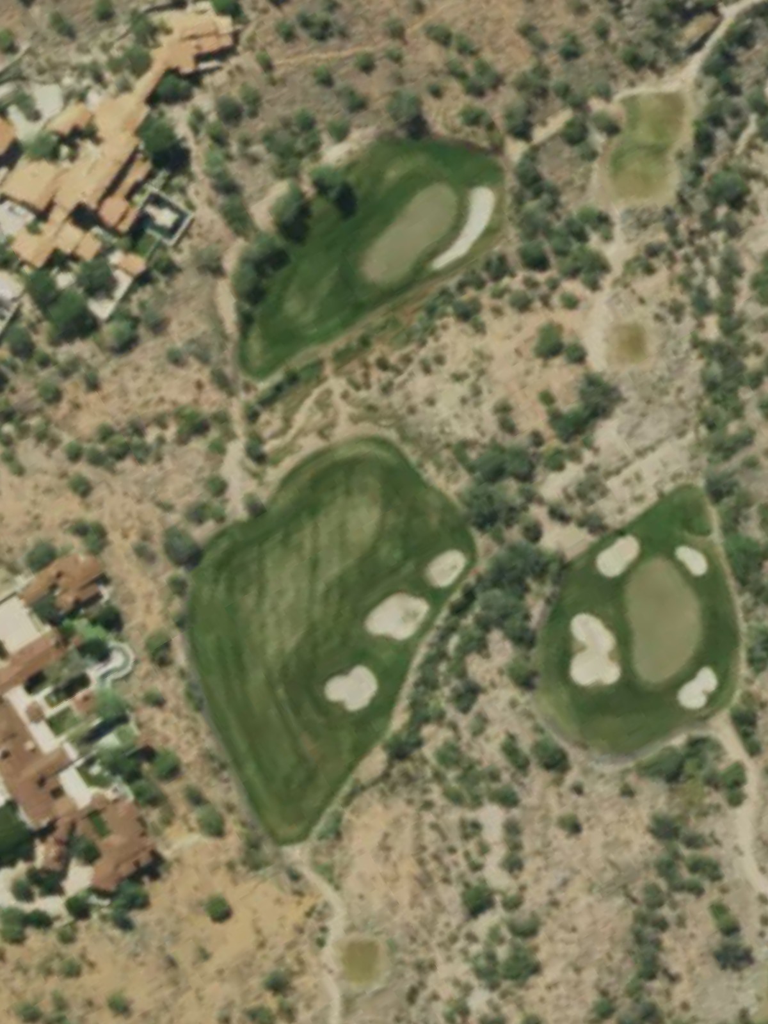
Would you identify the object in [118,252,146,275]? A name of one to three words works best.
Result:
house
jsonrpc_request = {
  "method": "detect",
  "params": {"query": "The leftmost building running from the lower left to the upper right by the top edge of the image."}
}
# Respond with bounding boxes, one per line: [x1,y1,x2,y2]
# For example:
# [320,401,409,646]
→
[0,1,234,269]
